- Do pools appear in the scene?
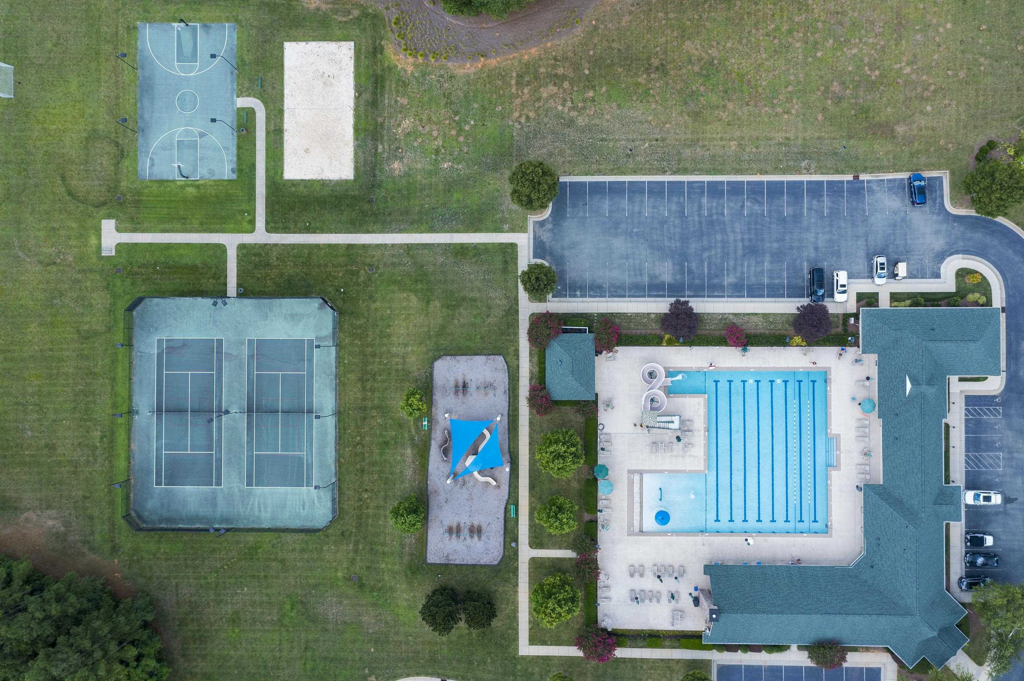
Yes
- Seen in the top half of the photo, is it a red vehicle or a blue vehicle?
blue vehicle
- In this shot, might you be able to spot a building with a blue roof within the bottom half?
Yes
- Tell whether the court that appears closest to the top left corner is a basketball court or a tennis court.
basketball court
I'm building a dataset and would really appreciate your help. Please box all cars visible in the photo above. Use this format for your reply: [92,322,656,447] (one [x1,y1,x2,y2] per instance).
[965,491,1004,507]
[833,271,850,301]
[969,534,996,549]
[872,255,889,285]
[909,174,928,206]
[809,268,827,302]
[968,554,1002,570]
[961,577,993,592]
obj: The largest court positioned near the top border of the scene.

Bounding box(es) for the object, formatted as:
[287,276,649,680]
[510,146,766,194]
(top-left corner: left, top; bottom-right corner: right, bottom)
[138,23,237,179]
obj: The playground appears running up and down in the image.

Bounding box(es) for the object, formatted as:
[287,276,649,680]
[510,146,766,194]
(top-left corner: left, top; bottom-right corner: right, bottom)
[425,354,511,567]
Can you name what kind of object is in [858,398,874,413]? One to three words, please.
umbrella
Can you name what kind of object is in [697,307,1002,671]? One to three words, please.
building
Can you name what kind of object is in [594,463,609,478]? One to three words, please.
umbrella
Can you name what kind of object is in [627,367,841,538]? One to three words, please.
swimming pool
